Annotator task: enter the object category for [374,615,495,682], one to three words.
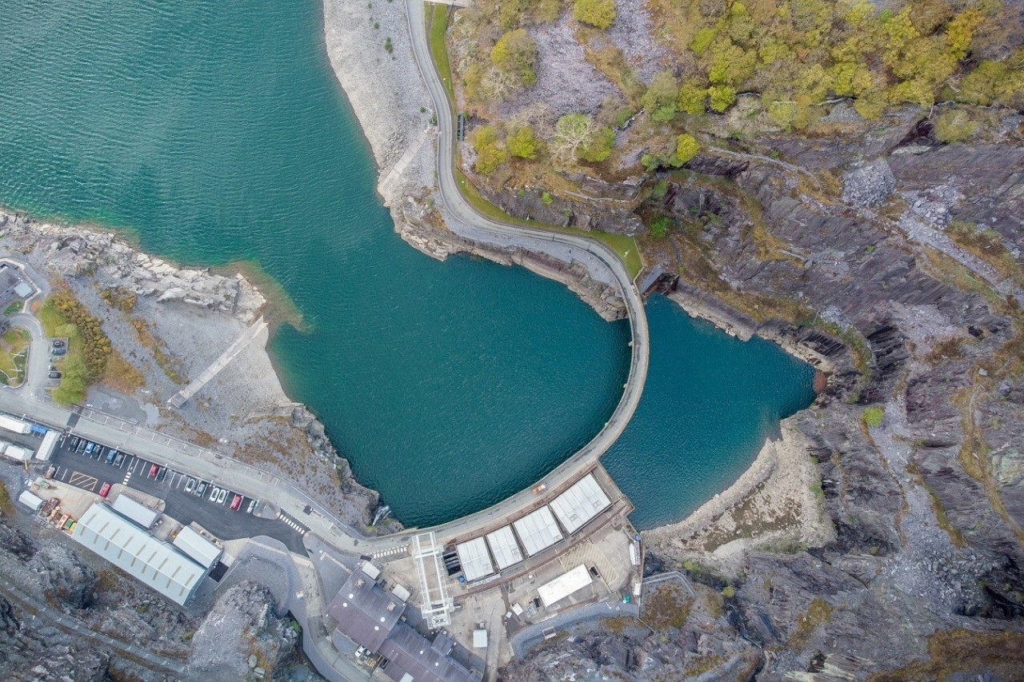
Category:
building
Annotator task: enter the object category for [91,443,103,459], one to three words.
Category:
vehicle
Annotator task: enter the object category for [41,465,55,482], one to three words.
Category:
vehicle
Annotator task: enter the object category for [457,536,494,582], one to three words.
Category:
house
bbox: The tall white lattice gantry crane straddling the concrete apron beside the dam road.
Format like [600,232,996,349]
[412,531,462,629]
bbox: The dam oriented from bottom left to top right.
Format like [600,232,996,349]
[417,289,650,545]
